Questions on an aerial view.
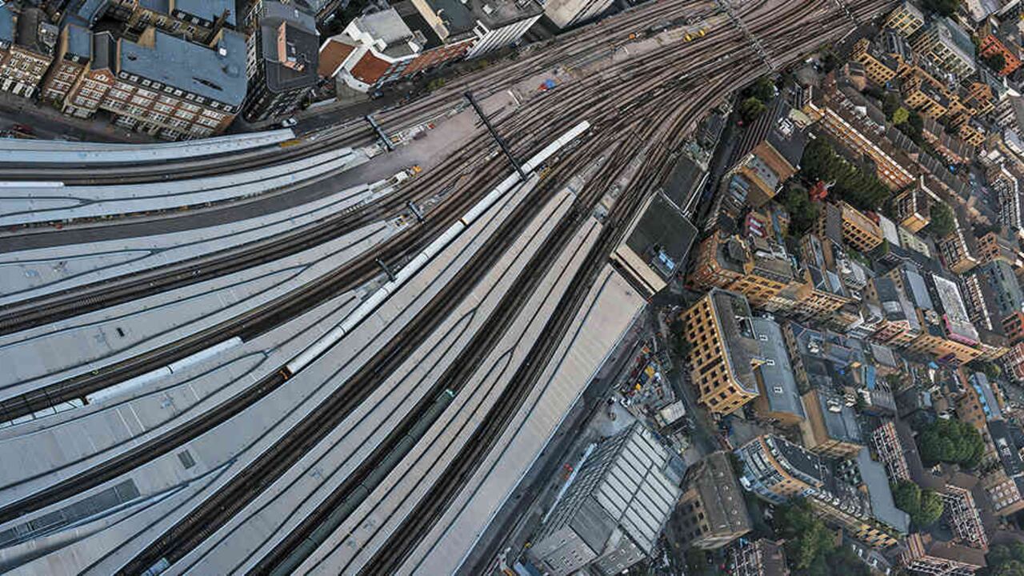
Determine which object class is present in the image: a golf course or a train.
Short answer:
train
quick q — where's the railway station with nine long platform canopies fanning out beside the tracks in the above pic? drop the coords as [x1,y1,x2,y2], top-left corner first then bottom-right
[0,128,647,576]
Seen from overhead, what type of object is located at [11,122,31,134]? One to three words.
vehicle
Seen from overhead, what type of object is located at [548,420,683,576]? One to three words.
warehouse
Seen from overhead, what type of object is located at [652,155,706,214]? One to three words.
building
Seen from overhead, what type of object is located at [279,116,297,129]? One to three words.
vehicle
